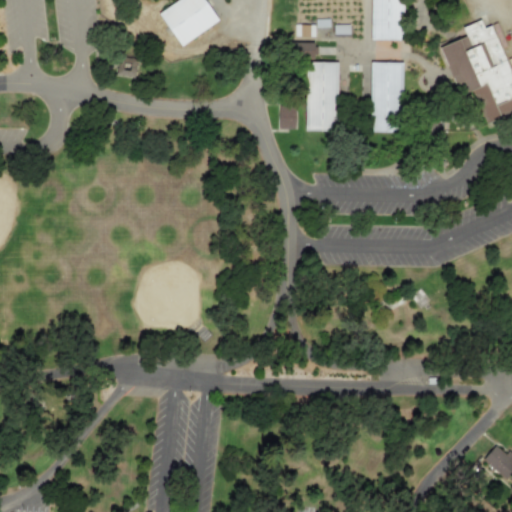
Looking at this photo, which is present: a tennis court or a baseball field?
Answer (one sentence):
The image shows a baseball field.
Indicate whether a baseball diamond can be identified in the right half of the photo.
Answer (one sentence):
No, looking in the right half of the photo, there is no baseball diamond.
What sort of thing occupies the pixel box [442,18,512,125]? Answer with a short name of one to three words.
building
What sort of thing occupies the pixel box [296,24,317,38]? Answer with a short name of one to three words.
shed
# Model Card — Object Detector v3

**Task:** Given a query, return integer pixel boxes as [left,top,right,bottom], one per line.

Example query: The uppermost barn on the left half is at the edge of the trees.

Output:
[160,0,220,46]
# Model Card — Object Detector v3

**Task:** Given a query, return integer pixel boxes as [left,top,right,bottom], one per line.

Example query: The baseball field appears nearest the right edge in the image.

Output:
[134,260,204,334]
